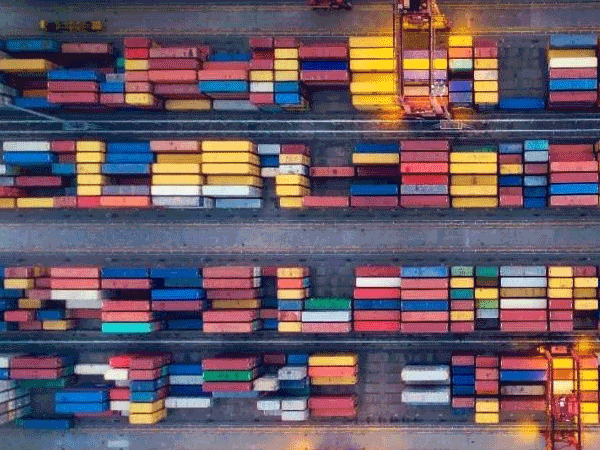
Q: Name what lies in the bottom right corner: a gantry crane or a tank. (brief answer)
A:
gantry crane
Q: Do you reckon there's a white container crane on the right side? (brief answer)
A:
No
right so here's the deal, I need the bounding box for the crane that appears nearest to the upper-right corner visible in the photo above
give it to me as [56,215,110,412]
[391,0,447,115]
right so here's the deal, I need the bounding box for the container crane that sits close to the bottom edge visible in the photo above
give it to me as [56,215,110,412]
[535,345,586,450]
